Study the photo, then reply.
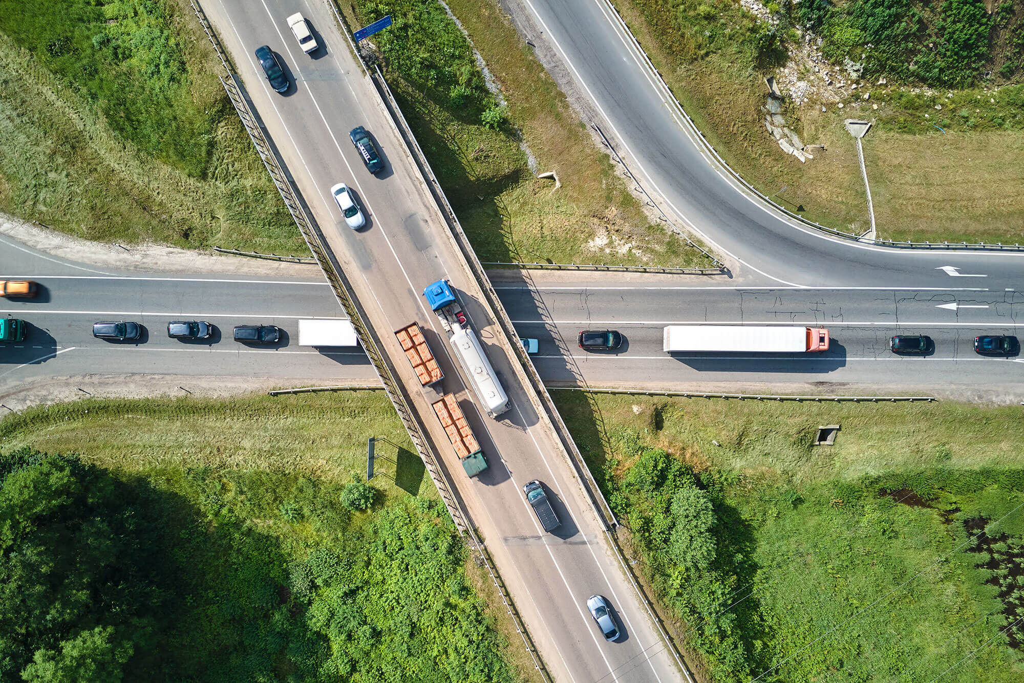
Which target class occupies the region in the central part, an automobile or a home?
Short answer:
automobile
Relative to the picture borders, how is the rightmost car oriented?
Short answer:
from side to side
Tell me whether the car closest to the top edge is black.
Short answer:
No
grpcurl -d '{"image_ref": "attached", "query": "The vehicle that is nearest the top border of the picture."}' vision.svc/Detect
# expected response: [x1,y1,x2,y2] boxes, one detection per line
[287,12,320,57]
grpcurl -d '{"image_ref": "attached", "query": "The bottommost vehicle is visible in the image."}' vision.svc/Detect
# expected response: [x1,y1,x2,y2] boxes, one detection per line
[586,592,622,643]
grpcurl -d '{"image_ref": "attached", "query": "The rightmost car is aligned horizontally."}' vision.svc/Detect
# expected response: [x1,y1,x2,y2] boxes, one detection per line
[971,334,1018,355]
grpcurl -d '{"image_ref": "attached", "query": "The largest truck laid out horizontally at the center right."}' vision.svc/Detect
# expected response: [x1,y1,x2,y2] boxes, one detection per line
[661,325,828,355]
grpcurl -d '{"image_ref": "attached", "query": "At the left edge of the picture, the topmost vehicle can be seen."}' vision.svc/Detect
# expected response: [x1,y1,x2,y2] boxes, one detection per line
[0,278,39,299]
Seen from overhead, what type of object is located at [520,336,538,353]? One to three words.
car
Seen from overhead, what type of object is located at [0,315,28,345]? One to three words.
truck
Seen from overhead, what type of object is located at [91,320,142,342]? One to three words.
car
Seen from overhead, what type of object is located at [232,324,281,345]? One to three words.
vehicle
